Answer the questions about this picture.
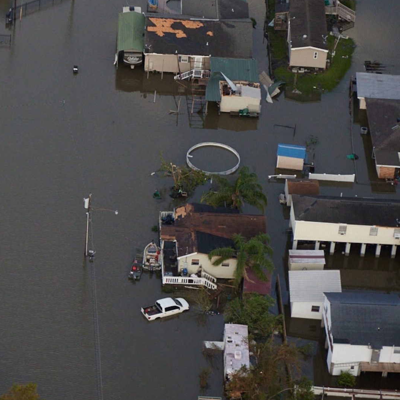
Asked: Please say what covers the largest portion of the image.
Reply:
water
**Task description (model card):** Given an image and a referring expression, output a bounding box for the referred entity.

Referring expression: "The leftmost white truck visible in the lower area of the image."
[143,297,192,321]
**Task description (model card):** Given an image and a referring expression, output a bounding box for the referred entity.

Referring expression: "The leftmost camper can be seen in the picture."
[118,49,139,65]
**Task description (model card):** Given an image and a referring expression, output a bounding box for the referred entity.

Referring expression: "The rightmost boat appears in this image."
[144,238,162,274]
